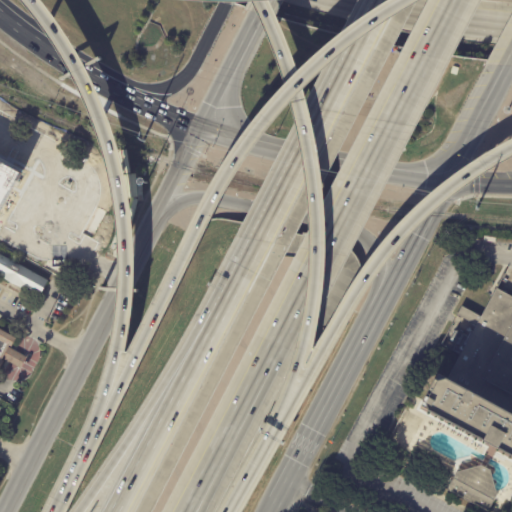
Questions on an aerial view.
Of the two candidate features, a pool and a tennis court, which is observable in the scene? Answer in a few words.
pool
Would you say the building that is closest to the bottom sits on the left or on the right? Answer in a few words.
right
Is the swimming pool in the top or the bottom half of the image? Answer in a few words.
bottom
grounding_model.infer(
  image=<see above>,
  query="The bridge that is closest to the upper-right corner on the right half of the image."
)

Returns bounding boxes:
[485,18,512,64]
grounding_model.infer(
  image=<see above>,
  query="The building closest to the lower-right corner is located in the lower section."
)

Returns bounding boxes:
[450,464,498,506]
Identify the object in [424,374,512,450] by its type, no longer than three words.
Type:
building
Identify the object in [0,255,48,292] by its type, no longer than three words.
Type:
building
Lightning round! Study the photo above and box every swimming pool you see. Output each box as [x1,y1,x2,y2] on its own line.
[430,433,509,492]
